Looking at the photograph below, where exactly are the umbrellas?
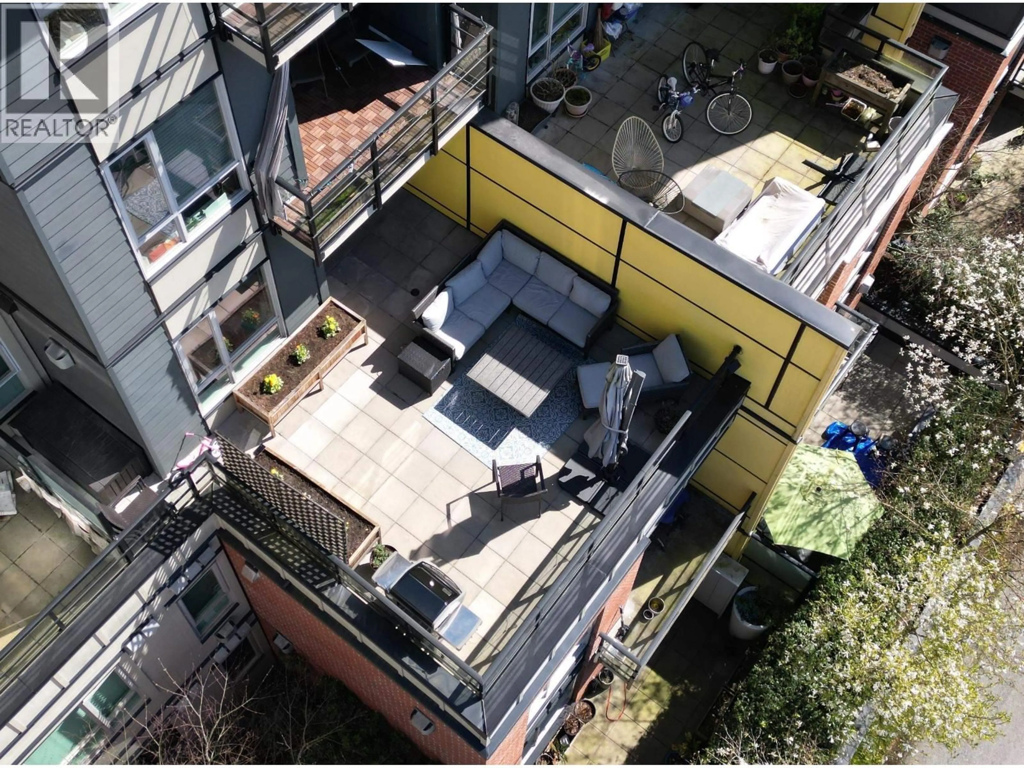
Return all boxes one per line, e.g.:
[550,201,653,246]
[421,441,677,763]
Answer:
[555,351,661,522]
[764,447,886,564]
